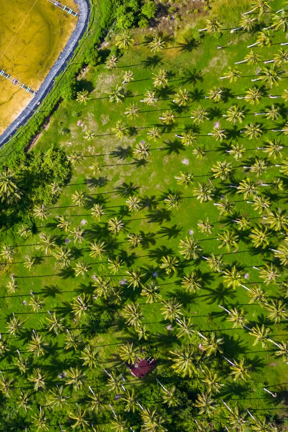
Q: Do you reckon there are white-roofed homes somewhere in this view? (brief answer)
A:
No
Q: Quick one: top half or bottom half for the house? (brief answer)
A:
bottom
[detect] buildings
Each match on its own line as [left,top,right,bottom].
[128,354,155,379]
